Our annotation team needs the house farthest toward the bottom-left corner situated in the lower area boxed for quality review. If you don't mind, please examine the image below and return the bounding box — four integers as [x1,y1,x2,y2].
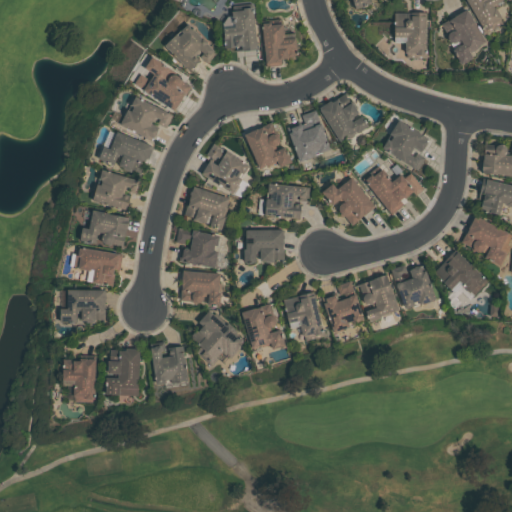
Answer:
[62,355,97,404]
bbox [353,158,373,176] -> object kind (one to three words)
swimming pool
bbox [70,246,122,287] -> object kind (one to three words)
house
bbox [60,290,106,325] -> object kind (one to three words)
house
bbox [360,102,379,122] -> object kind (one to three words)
swimming pool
